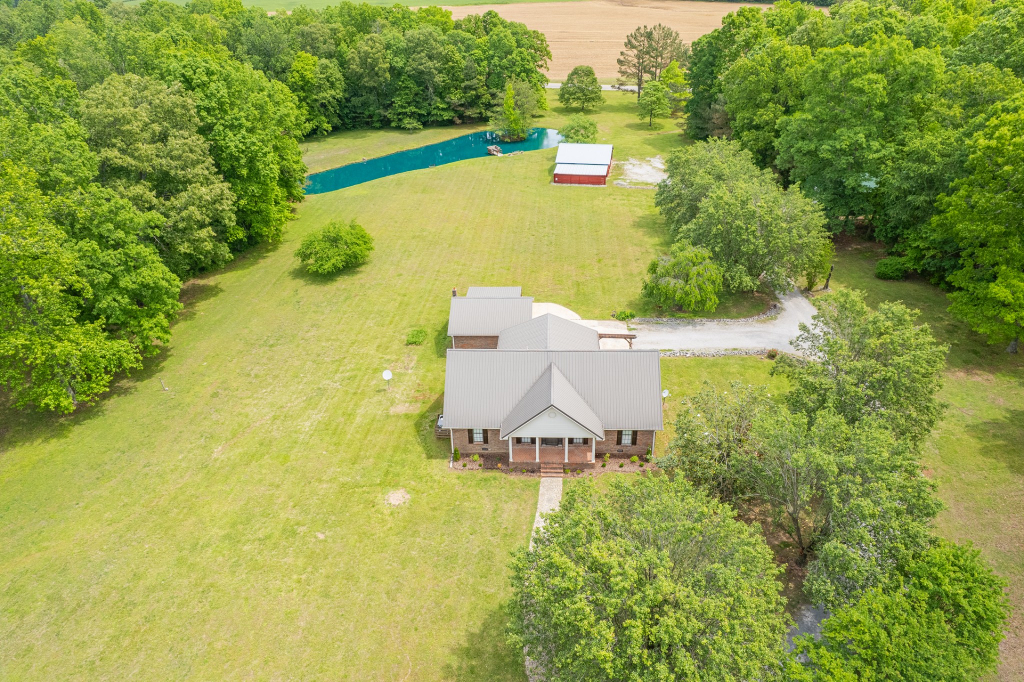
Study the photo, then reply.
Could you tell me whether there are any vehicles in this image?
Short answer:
No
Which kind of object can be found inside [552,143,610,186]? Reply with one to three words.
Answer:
barn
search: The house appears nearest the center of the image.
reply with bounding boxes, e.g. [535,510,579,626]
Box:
[442,284,664,478]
